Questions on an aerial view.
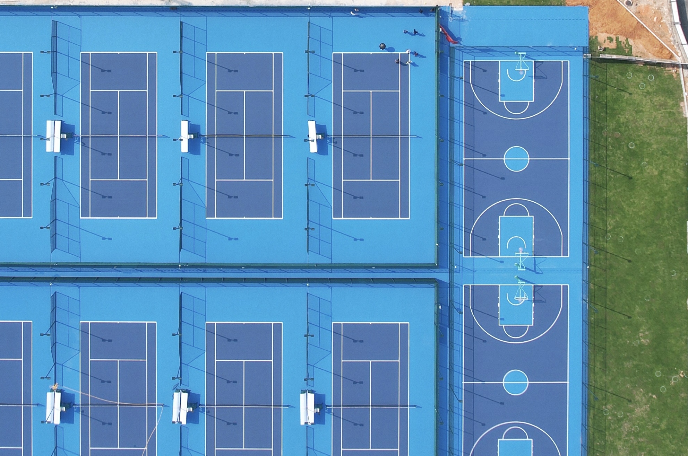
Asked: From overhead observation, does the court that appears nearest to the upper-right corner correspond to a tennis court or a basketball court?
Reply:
basketball court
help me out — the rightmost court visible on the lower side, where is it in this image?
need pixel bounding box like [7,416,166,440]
[462,285,569,456]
